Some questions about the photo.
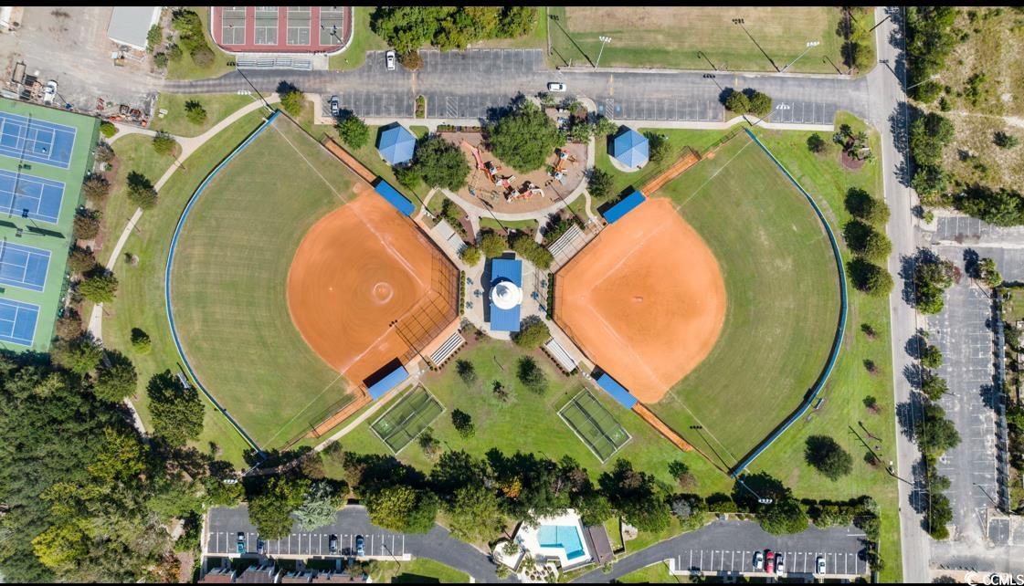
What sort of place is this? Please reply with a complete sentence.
This looks like a sports ground.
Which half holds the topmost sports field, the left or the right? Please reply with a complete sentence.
You can find the topmost sports field on the right side of the picture.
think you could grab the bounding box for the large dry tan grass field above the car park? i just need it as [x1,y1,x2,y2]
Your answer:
[550,0,848,74]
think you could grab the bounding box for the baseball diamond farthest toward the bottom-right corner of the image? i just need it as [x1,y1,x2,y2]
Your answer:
[555,129,844,476]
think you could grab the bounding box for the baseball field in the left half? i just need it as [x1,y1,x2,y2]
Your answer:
[167,111,458,456]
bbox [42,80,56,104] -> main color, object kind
white vehicle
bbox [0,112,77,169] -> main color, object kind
blue tennis court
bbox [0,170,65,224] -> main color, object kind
blue tennis court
